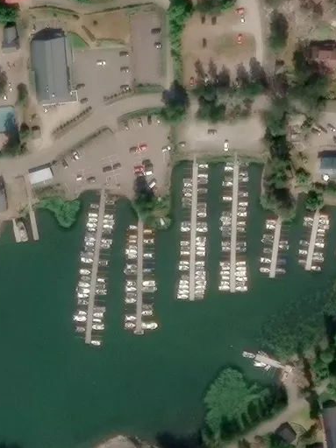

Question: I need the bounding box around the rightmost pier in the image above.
[299,208,329,270]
